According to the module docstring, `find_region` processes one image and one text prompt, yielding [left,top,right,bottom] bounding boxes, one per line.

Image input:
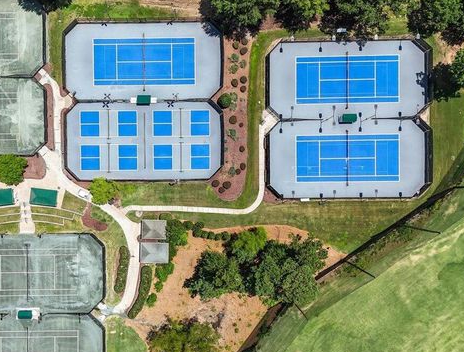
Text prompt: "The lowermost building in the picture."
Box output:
[139,242,169,263]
